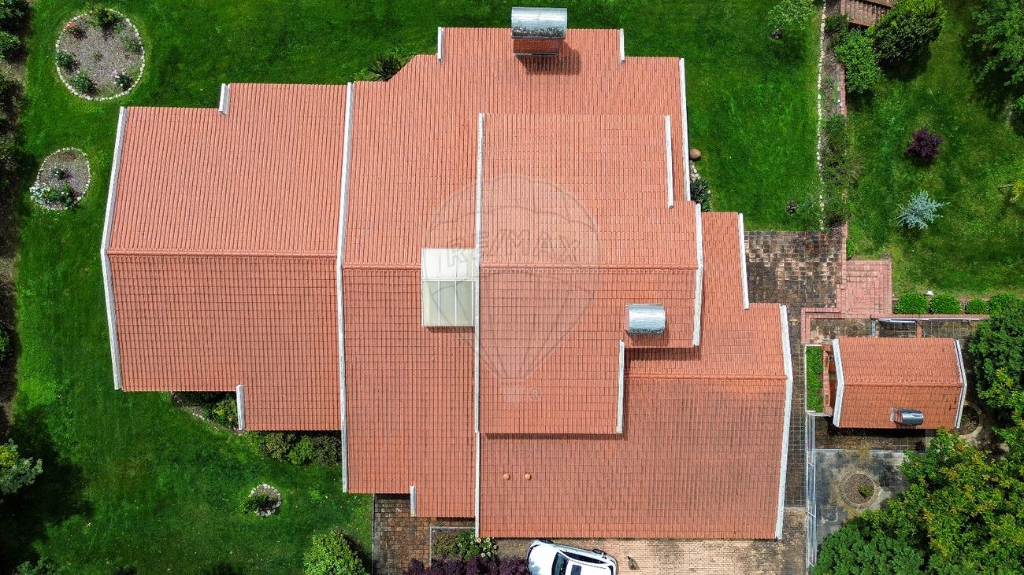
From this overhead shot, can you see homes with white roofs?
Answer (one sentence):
No, I can't see a single home with a white roof in this photo.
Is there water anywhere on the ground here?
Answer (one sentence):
No, water can't be seen anywhere here.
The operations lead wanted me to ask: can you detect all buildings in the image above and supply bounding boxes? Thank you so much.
[100,26,791,543]
[828,337,964,430]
